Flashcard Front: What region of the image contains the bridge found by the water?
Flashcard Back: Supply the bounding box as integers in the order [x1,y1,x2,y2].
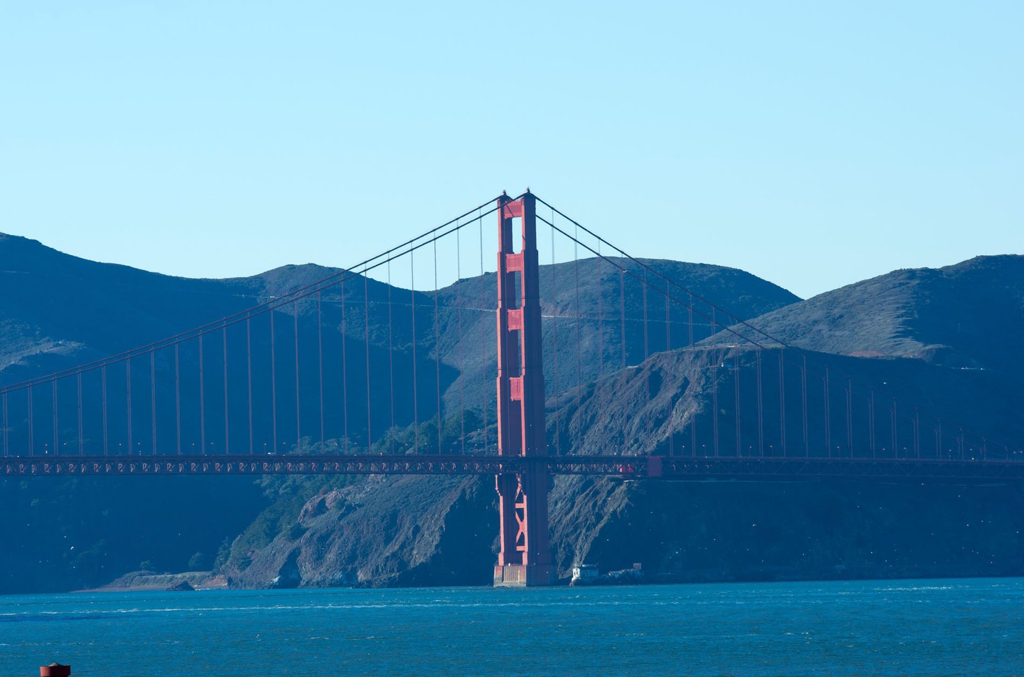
[0,186,1024,588]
